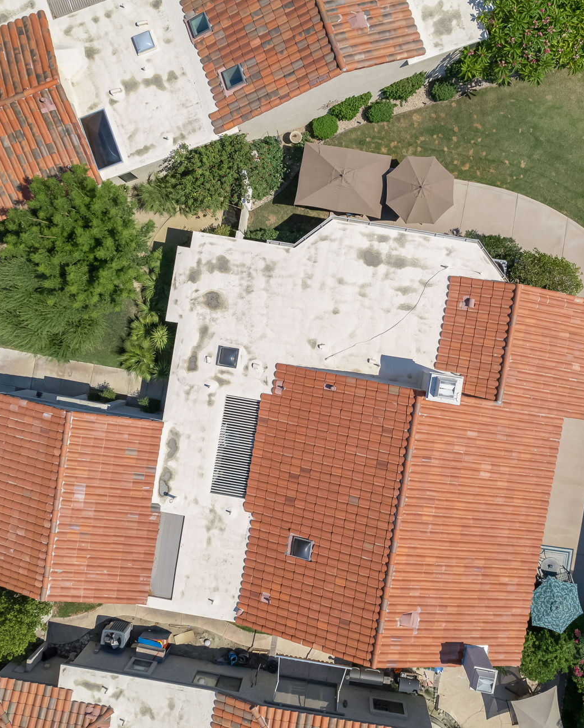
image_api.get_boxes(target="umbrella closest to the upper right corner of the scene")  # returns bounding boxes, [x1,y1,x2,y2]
[386,156,453,223]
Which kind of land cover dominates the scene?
buildings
